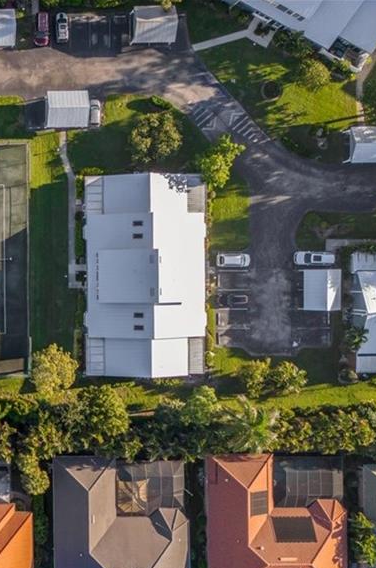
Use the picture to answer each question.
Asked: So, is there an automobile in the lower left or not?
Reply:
No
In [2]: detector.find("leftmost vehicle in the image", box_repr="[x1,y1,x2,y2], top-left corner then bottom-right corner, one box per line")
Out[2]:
[34,12,50,48]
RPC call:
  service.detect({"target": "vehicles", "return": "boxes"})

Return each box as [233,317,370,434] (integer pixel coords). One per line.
[34,12,50,48]
[214,252,249,268]
[55,12,70,45]
[89,97,103,129]
[294,251,335,267]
